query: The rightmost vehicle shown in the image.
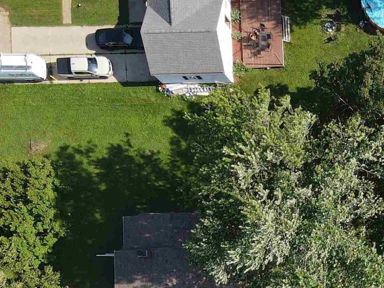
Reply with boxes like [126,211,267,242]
[98,24,145,50]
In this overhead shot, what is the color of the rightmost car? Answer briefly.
black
